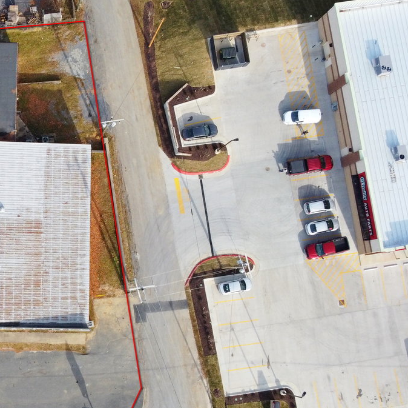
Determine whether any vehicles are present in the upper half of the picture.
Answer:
Yes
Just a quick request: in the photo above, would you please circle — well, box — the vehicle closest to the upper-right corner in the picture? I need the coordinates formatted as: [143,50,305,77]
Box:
[281,108,323,127]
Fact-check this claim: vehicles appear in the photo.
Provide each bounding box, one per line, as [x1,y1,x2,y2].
[301,238,352,259]
[303,217,341,236]
[216,277,254,296]
[179,123,217,142]
[287,156,333,176]
[281,108,323,127]
[300,197,336,216]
